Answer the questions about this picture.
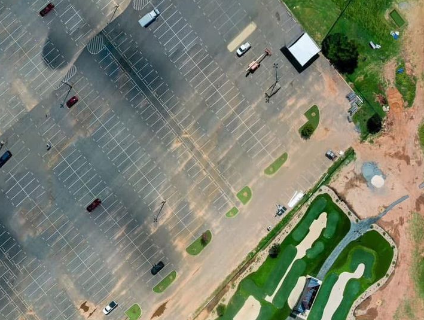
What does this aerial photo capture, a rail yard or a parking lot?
parking lot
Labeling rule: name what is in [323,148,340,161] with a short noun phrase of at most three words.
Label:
vehicle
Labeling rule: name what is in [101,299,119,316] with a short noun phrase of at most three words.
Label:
vehicle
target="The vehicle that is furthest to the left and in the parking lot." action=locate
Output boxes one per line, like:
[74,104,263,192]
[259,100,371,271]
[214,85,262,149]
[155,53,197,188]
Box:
[0,150,12,167]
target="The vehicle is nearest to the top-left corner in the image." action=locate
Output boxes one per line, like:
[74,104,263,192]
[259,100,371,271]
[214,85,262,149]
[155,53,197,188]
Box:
[37,0,55,17]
